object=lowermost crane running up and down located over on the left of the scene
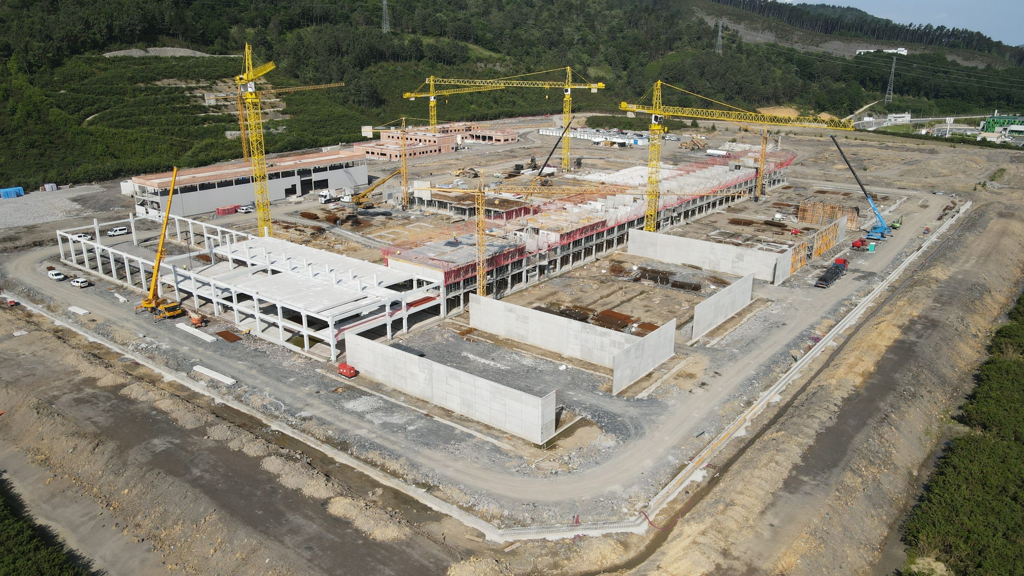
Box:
[129,166,192,320]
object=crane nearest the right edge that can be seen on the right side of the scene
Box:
[829,136,898,242]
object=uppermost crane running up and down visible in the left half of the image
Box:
[244,43,283,240]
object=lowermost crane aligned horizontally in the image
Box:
[416,169,752,298]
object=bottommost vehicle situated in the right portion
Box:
[825,259,851,287]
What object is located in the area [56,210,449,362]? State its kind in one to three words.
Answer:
building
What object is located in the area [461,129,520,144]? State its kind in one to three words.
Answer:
building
